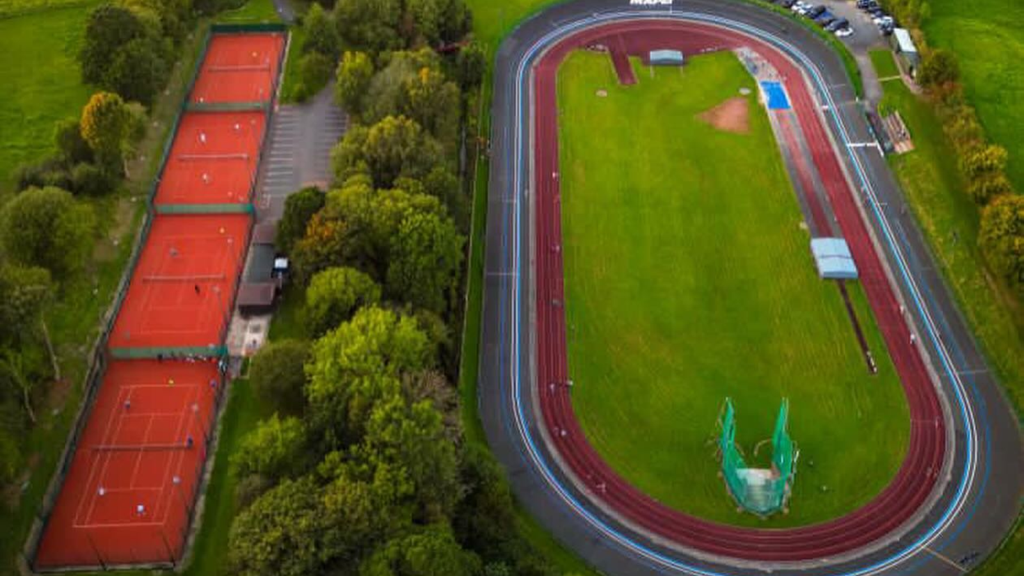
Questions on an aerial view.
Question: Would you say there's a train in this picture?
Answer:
No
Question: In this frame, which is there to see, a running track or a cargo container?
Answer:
running track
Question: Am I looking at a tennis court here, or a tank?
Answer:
tennis court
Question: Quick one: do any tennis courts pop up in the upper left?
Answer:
Yes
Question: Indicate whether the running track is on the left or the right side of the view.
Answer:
right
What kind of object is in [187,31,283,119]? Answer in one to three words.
tennis court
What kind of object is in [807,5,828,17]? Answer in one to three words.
vehicle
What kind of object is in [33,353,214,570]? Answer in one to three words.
tennis court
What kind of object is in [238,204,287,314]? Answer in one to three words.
building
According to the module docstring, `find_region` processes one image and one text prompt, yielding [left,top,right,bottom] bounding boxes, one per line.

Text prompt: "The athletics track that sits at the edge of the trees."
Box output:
[533,17,947,561]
